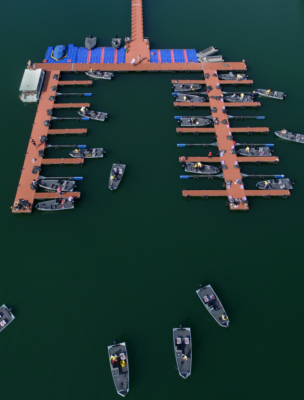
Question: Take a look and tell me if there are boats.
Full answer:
Yes, there's a boat down there.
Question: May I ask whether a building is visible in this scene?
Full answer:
No, I can't see a single building in this photo.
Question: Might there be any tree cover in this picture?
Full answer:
No, the scene doesn't show any tree cover.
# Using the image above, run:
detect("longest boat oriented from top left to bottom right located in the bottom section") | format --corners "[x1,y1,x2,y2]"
[196,283,230,326]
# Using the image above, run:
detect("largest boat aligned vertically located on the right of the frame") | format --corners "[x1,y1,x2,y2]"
[173,323,193,378]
